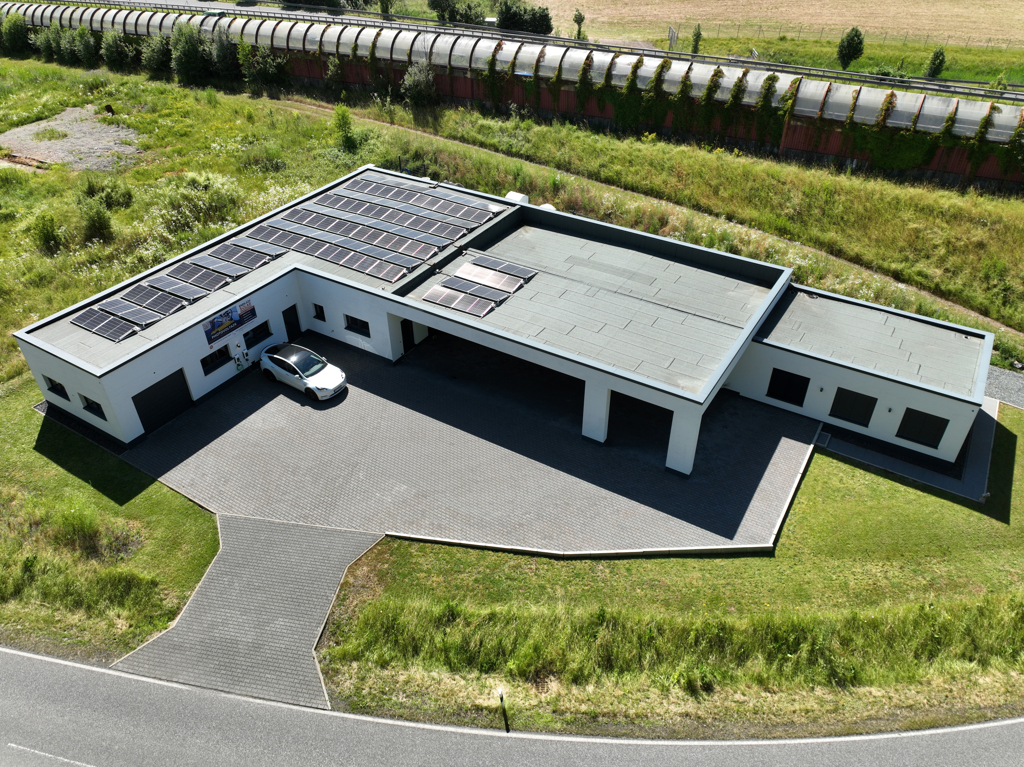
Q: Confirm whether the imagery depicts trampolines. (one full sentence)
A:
No, the photo shows no trampoline.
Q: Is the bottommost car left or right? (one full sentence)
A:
The bottommost car sits on the left side.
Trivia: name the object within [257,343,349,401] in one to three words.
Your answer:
car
